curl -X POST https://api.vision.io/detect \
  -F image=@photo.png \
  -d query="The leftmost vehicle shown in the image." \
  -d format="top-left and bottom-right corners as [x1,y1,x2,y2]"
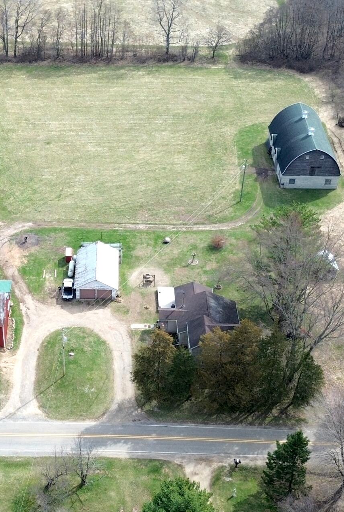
[61,279,74,298]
